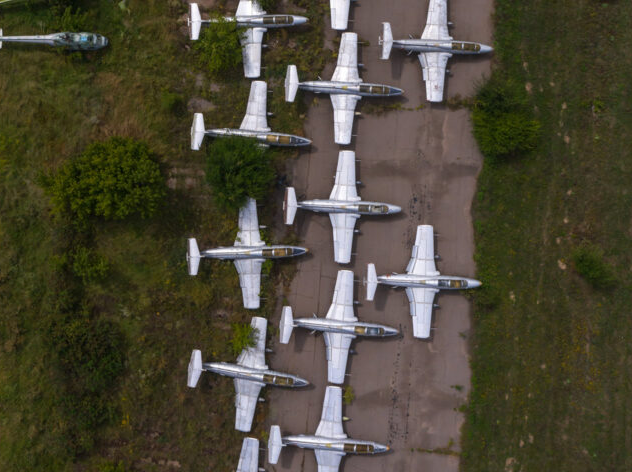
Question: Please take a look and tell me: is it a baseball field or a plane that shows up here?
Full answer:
The image shows a plane.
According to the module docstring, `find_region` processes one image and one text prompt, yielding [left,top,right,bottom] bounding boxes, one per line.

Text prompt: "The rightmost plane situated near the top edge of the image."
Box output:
[378,0,494,102]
